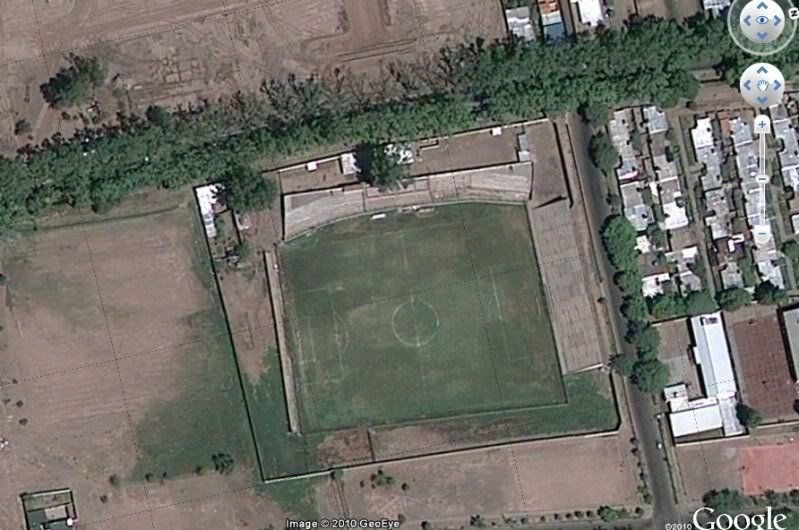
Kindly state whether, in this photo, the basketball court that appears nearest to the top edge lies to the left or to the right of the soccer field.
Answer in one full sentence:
Compared with the soccer field, the basketball court that appears nearest to the top edge is located further to the right.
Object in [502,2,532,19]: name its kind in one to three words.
house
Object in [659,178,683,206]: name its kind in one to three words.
house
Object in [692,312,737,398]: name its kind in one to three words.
building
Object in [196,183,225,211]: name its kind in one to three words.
building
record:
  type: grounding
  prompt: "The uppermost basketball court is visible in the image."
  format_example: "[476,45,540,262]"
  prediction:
[731,316,799,425]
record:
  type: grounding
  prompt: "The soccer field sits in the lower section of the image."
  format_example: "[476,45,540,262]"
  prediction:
[283,202,566,434]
